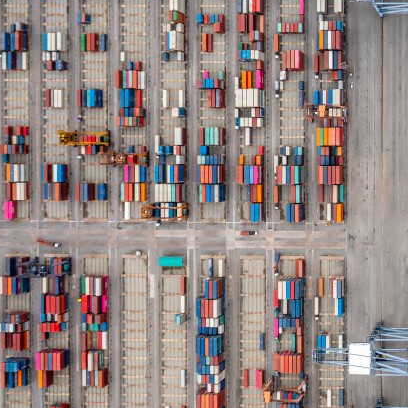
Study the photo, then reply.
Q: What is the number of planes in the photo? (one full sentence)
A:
No planes are visible.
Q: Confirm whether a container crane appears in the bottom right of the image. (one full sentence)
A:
Yes, a container crane can be seen in the bottom right of the image.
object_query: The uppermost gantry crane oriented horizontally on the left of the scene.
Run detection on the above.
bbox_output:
[55,129,109,147]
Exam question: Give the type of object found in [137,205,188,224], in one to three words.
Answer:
container crane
